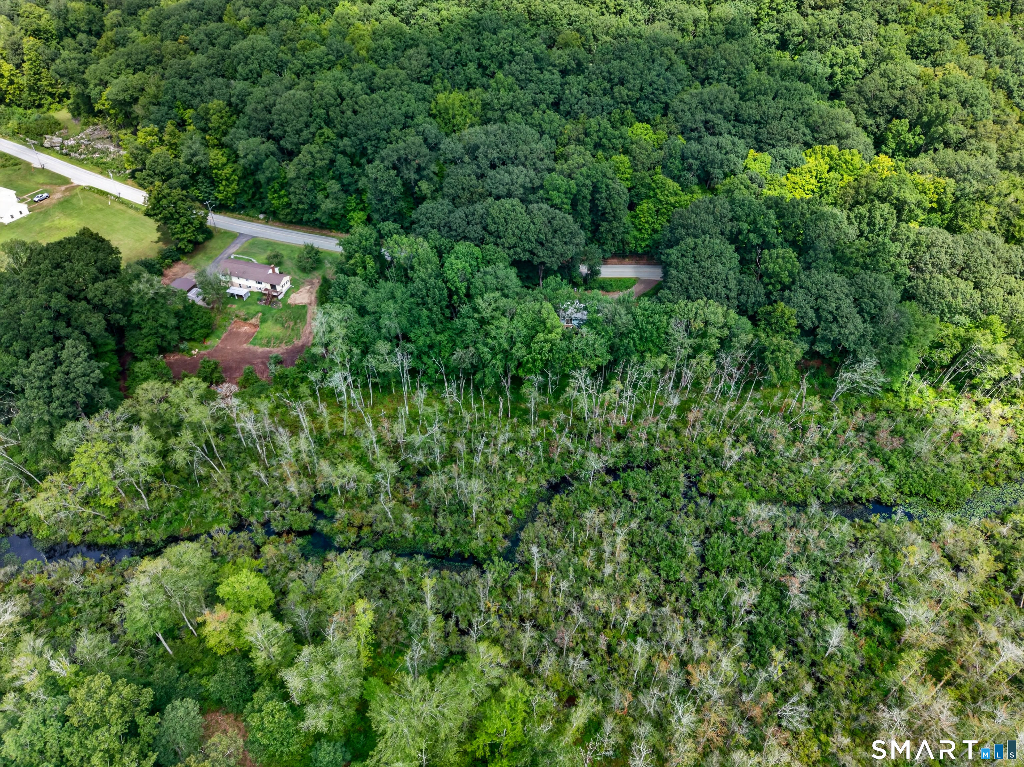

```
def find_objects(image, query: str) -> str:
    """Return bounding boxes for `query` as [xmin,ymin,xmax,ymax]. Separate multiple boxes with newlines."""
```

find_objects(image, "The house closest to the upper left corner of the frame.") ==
[0,186,30,228]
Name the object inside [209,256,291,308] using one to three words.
house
